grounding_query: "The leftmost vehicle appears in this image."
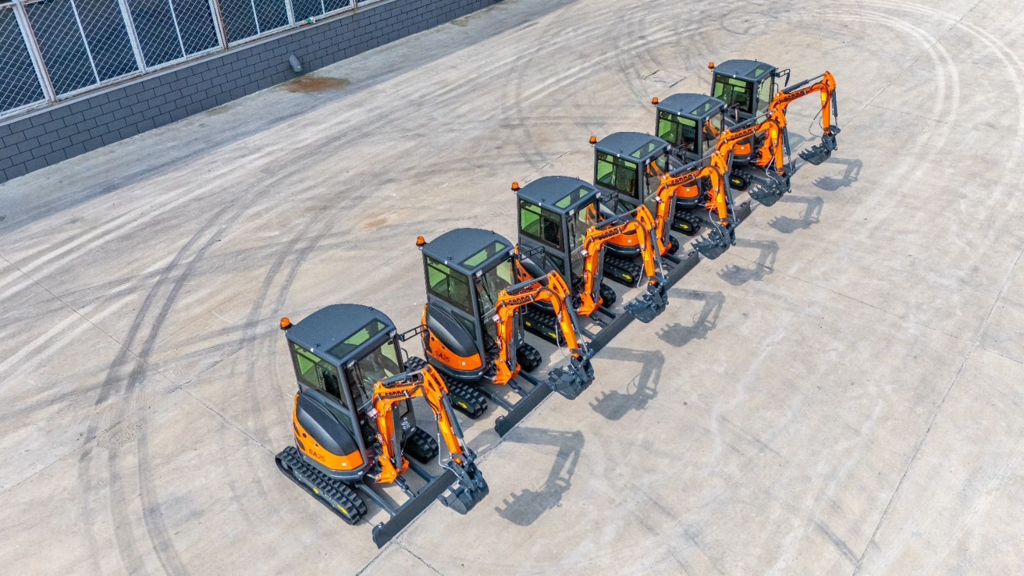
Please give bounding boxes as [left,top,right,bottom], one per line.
[273,305,488,547]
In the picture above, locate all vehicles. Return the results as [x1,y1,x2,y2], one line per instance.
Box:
[644,92,795,237]
[570,130,739,293]
[489,175,669,360]
[273,305,488,547]
[400,228,595,437]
